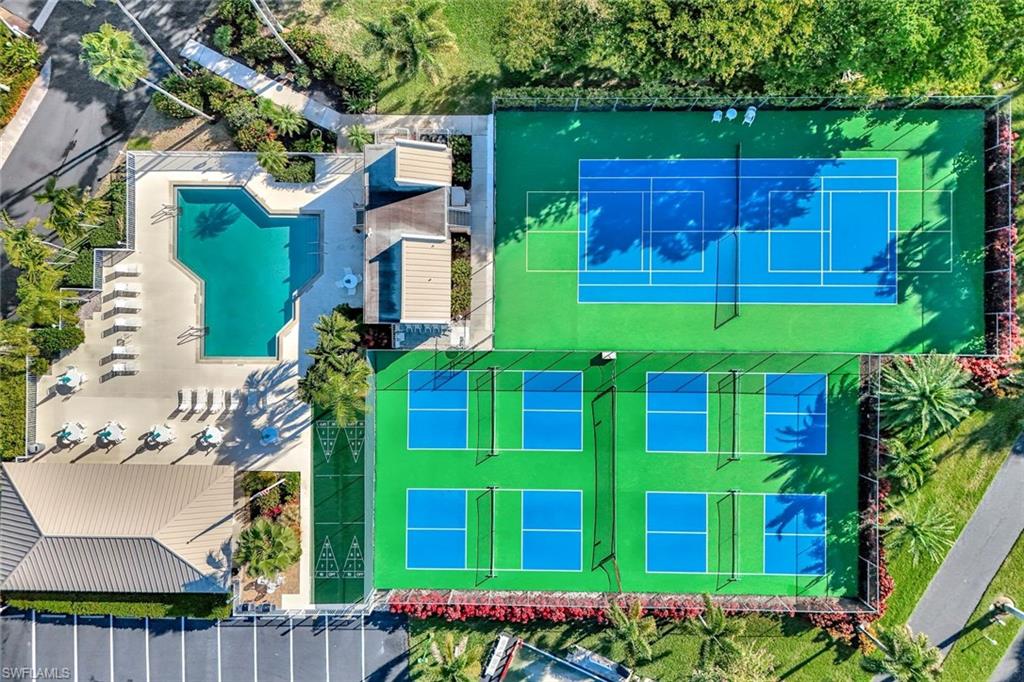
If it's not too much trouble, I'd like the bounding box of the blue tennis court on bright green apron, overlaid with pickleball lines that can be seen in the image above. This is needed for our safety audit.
[494,110,985,355]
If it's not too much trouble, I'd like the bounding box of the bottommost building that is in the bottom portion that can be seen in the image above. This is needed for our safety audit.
[0,464,239,593]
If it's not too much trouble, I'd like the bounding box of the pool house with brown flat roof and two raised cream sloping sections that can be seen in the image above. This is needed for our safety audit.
[365,140,452,325]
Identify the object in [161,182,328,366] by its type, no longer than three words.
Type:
swimming pool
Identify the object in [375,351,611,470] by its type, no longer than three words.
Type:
sports court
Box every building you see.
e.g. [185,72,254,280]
[0,464,239,593]
[365,140,452,325]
